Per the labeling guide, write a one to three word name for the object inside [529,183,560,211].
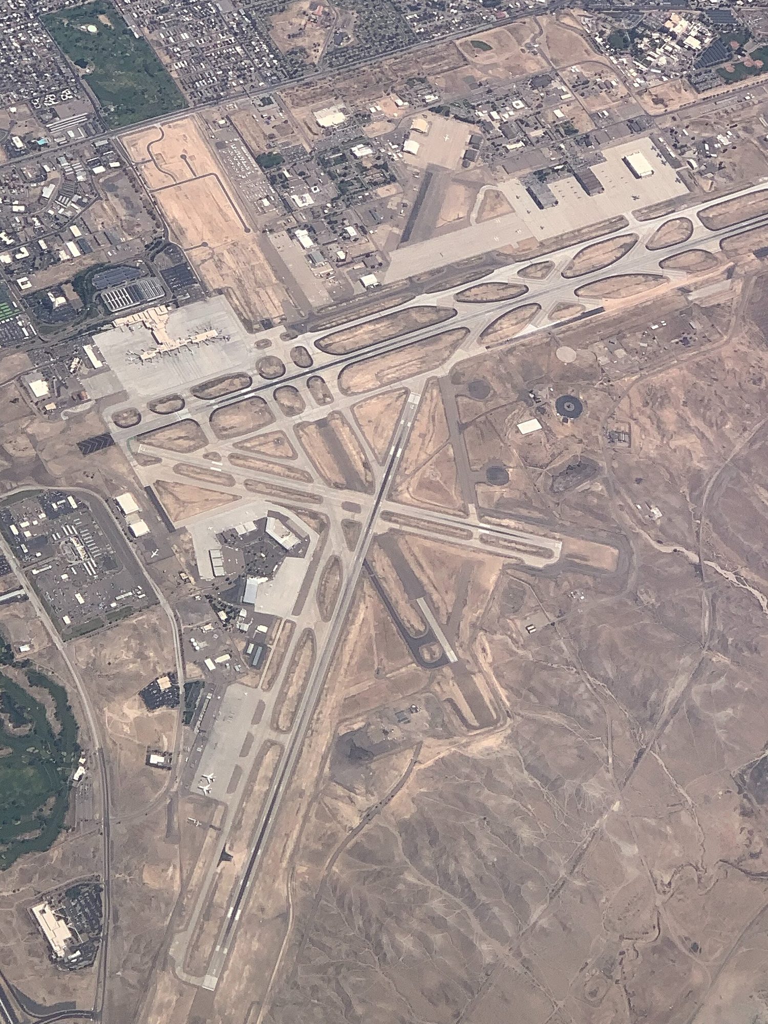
hangar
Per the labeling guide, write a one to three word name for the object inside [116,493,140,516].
hangar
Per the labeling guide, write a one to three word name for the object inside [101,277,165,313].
building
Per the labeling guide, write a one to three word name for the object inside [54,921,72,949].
building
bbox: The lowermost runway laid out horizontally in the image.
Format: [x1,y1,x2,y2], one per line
[139,448,562,550]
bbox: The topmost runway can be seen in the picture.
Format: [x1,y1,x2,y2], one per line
[112,218,768,441]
